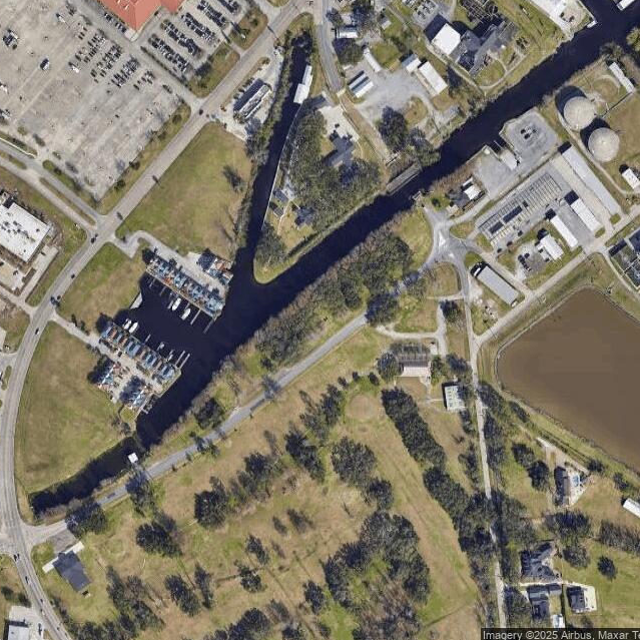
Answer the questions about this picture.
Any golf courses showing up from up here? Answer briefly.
Yes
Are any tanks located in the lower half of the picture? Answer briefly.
No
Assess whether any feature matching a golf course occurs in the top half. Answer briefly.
No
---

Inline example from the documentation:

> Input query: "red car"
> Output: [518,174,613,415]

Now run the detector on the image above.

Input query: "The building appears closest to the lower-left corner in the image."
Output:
[7,622,30,640]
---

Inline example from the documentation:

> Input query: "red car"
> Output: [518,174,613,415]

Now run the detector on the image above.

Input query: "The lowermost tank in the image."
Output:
[588,129,620,161]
